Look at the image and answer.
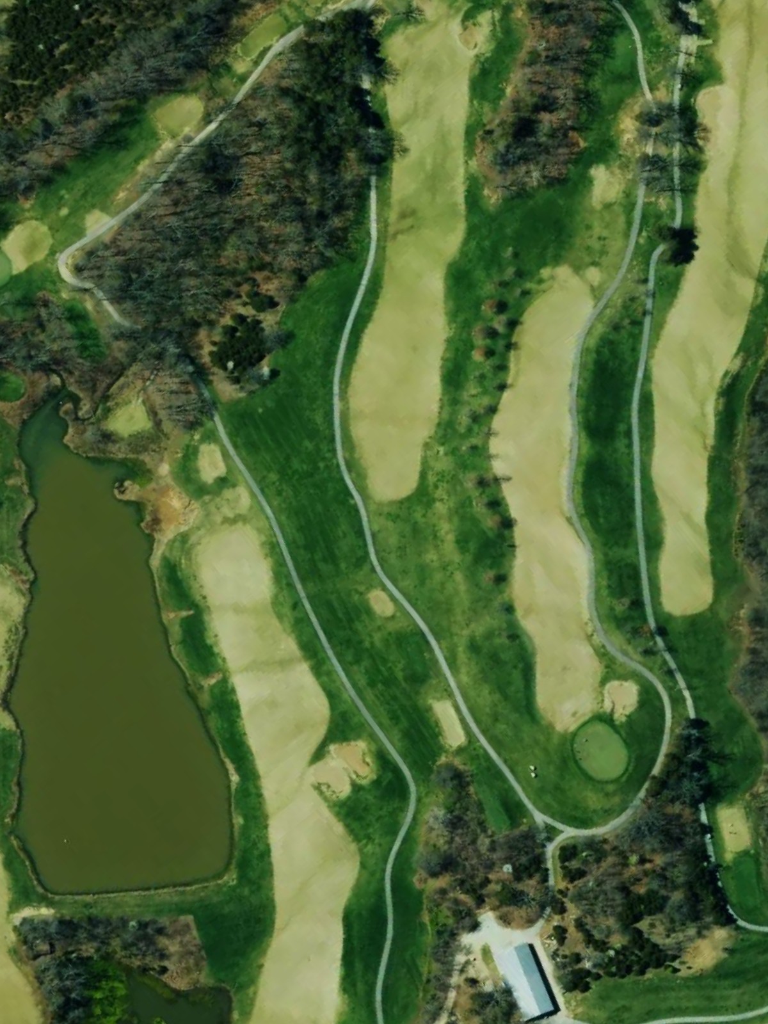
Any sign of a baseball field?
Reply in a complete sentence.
No, there appears to be no baseball field in this shot.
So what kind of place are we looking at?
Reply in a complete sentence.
This image shows a golf course.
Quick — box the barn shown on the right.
[501,946,555,1022]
